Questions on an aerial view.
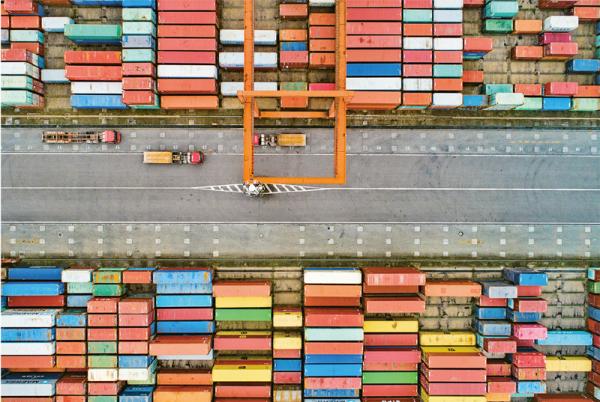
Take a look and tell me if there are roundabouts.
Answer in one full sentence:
No, there is no roundabout in the image.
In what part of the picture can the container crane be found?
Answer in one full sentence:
The container crane is in the top part of the image.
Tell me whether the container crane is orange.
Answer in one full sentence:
Yes, the container crane is orange.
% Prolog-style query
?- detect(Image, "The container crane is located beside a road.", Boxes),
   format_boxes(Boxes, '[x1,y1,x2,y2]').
[238,0,354,184]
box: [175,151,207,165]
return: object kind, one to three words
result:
vehicle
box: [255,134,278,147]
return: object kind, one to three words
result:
vehicle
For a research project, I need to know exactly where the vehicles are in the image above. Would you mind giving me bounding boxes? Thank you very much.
[42,129,124,143]
[175,151,207,165]
[255,134,278,147]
